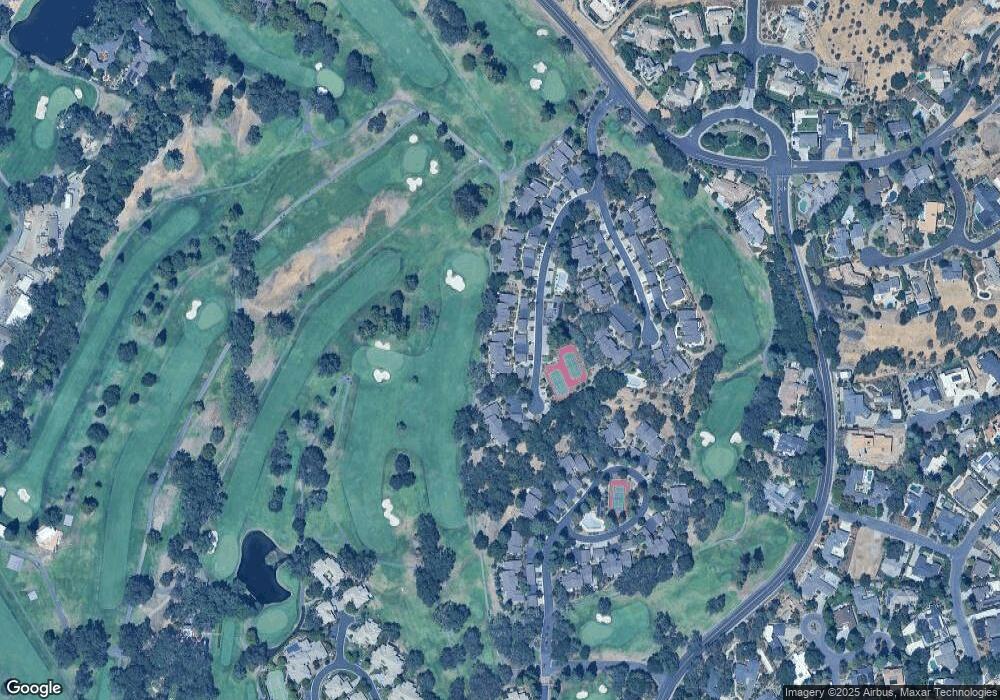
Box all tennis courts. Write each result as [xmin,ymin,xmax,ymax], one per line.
[608,479,631,515]
[559,344,588,391]
[544,362,570,401]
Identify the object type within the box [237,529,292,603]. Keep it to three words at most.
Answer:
pond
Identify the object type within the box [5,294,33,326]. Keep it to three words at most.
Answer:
shed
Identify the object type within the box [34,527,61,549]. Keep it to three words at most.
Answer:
building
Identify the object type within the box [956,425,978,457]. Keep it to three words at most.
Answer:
house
